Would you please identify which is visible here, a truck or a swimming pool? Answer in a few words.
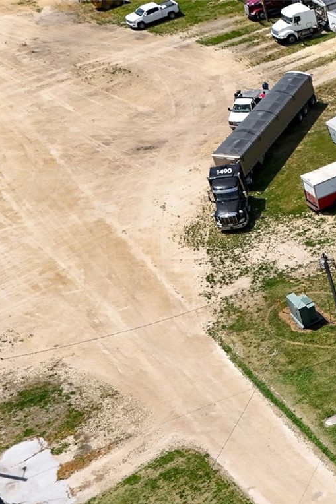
truck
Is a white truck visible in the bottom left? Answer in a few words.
No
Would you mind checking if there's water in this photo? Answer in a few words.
No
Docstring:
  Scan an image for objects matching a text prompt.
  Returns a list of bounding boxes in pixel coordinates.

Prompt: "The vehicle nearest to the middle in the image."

[209,157,255,231]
